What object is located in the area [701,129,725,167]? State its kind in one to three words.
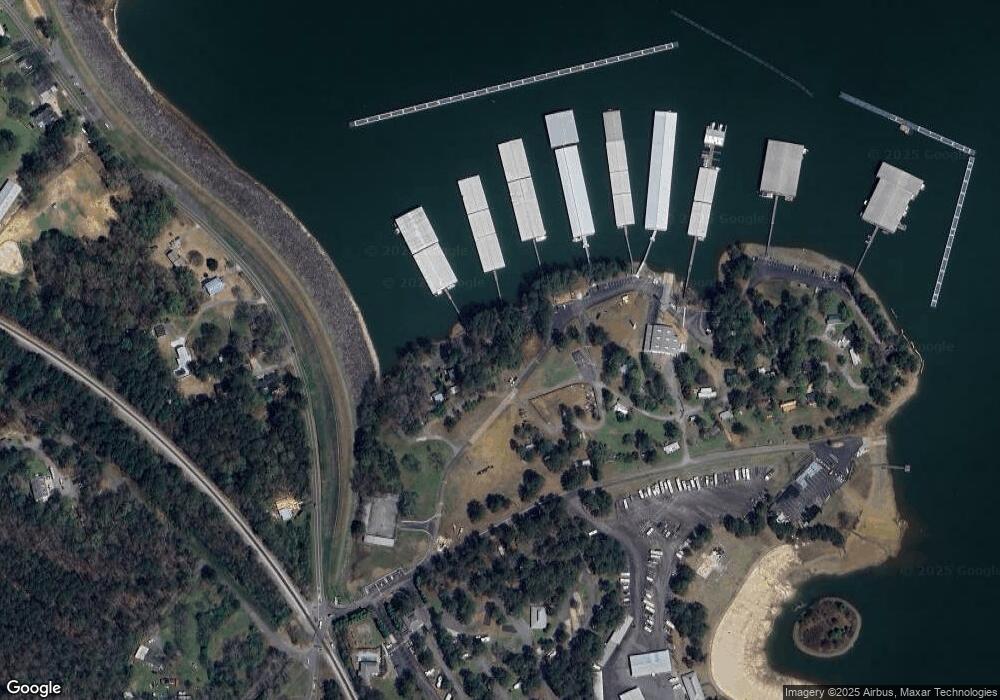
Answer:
pier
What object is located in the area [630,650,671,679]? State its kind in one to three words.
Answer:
building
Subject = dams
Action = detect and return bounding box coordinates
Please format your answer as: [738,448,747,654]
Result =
[26,0,385,597]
